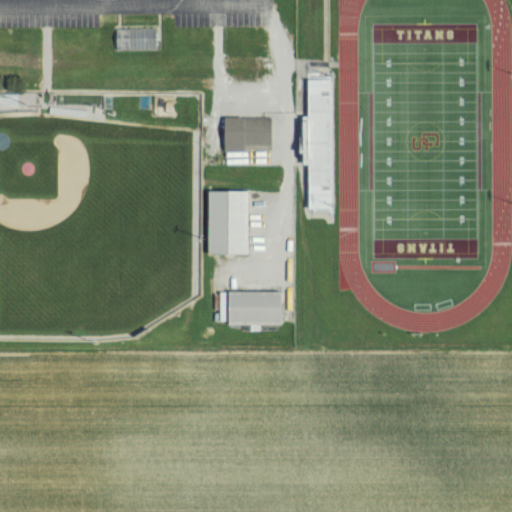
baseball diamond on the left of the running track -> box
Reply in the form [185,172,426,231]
[0,116,199,338]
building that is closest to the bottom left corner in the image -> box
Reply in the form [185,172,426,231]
[229,292,282,332]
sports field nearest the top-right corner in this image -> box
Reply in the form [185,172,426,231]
[358,0,492,312]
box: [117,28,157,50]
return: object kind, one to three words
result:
building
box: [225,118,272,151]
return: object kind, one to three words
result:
shed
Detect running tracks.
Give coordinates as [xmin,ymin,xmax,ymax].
[340,0,510,332]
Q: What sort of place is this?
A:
sports ground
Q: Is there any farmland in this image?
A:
Yes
